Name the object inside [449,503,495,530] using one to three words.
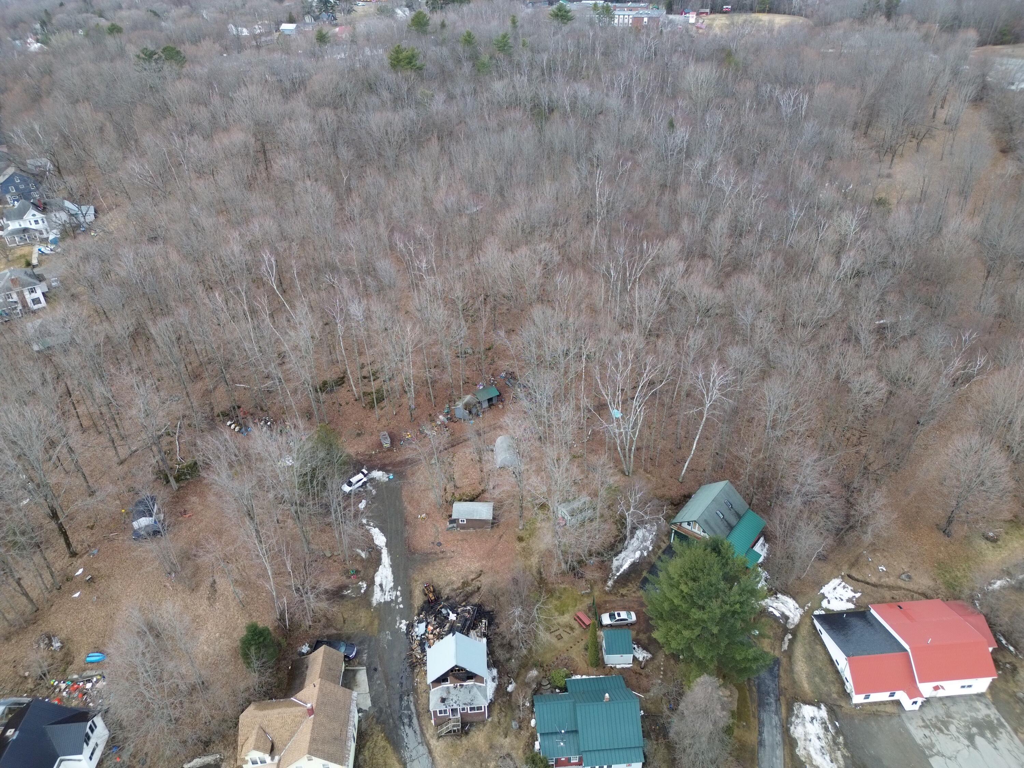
shed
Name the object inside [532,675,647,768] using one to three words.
house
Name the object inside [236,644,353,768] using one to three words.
house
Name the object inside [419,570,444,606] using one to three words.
work vehicle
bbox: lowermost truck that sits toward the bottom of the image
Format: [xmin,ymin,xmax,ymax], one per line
[309,639,358,662]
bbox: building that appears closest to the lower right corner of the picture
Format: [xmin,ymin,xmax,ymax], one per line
[816,597,1000,713]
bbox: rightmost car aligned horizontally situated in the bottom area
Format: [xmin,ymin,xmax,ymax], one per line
[599,608,637,624]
